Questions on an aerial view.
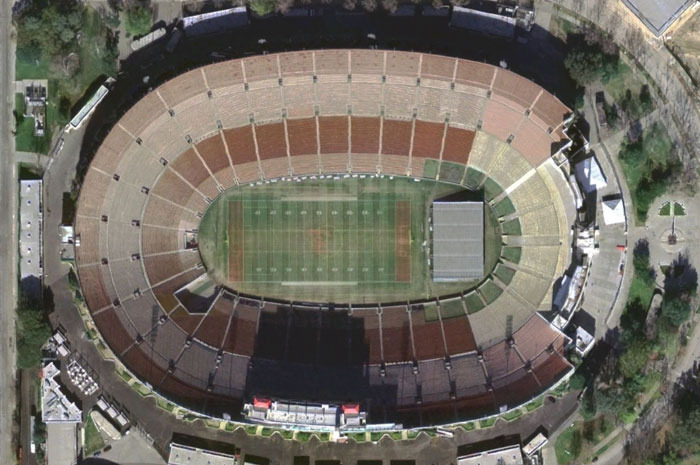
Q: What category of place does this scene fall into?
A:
sports ground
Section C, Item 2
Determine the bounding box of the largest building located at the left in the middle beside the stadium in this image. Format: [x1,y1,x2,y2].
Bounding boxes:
[21,180,42,313]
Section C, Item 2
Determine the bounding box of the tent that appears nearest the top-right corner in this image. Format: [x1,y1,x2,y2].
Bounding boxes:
[575,156,607,193]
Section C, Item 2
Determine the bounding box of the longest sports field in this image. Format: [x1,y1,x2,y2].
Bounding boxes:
[198,174,502,308]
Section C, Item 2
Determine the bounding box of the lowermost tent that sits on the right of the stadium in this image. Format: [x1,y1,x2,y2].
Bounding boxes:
[602,198,625,225]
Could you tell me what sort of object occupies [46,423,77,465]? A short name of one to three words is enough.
building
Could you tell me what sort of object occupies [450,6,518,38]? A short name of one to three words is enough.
building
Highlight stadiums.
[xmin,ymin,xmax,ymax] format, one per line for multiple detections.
[74,49,576,441]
